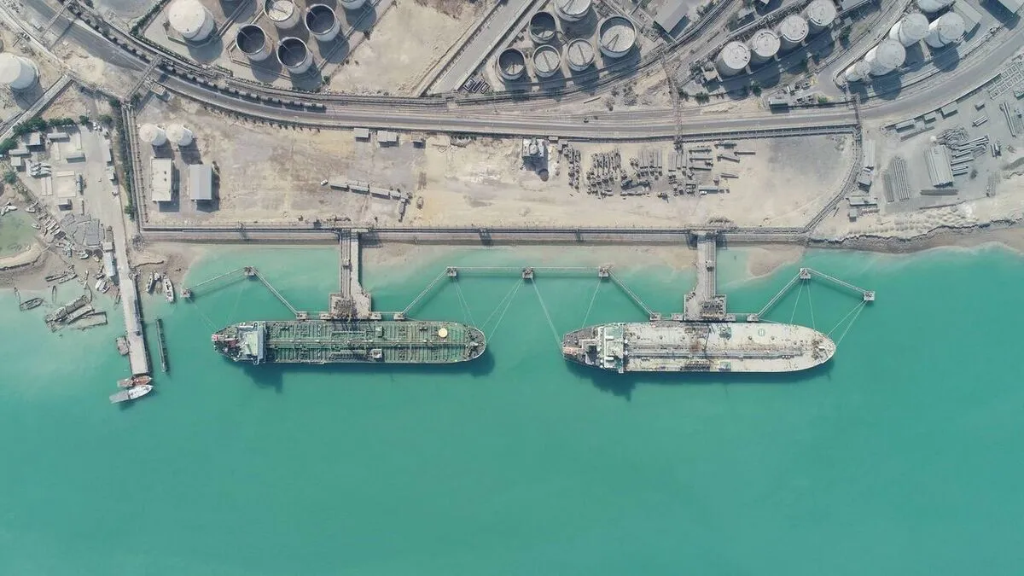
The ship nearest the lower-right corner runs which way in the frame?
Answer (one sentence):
From this overhead view, the ship nearest the lower-right corner appears to run from left to right.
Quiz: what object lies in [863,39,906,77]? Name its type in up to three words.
storage tank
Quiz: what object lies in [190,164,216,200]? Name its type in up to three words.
shed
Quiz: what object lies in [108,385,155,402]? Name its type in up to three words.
boat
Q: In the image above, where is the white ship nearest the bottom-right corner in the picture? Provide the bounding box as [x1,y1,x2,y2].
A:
[562,322,838,373]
